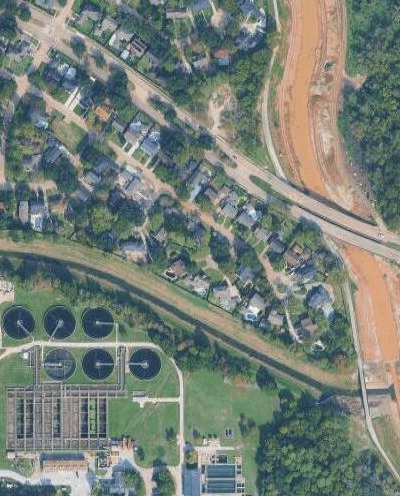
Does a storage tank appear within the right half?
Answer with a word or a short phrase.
No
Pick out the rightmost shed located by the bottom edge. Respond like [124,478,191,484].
[183,468,200,496]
